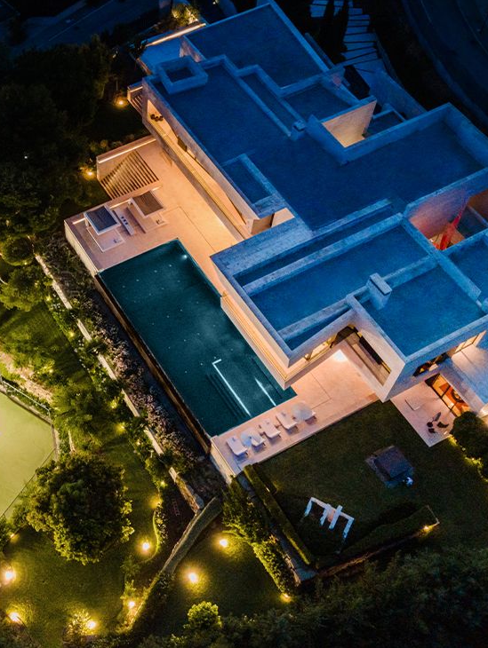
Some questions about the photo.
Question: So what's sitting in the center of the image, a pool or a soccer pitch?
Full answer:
It is a pool that can be seen in the center of the image.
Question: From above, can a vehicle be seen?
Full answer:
No, no vehicle can be seen from above.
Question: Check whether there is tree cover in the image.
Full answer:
Yes, there's tree cover in this view.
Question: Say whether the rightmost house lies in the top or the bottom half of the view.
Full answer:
The rightmost house is in the top half of the image.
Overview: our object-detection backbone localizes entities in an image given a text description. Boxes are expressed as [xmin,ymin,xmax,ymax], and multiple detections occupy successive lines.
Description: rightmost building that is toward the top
[126,0,488,427]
